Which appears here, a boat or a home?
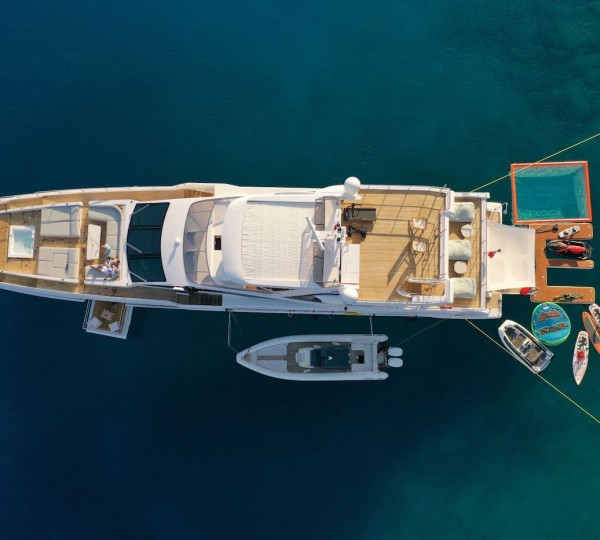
boat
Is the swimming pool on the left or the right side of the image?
right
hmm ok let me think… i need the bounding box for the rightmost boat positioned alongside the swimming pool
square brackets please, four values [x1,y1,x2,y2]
[547,240,596,260]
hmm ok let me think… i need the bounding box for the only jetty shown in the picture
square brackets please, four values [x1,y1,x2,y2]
[528,223,595,303]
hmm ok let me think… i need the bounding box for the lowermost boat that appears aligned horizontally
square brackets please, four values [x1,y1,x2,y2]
[237,334,403,381]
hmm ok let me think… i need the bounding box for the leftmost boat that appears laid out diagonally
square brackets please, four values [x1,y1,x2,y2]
[500,321,558,376]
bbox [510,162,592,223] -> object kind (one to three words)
swimming pool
